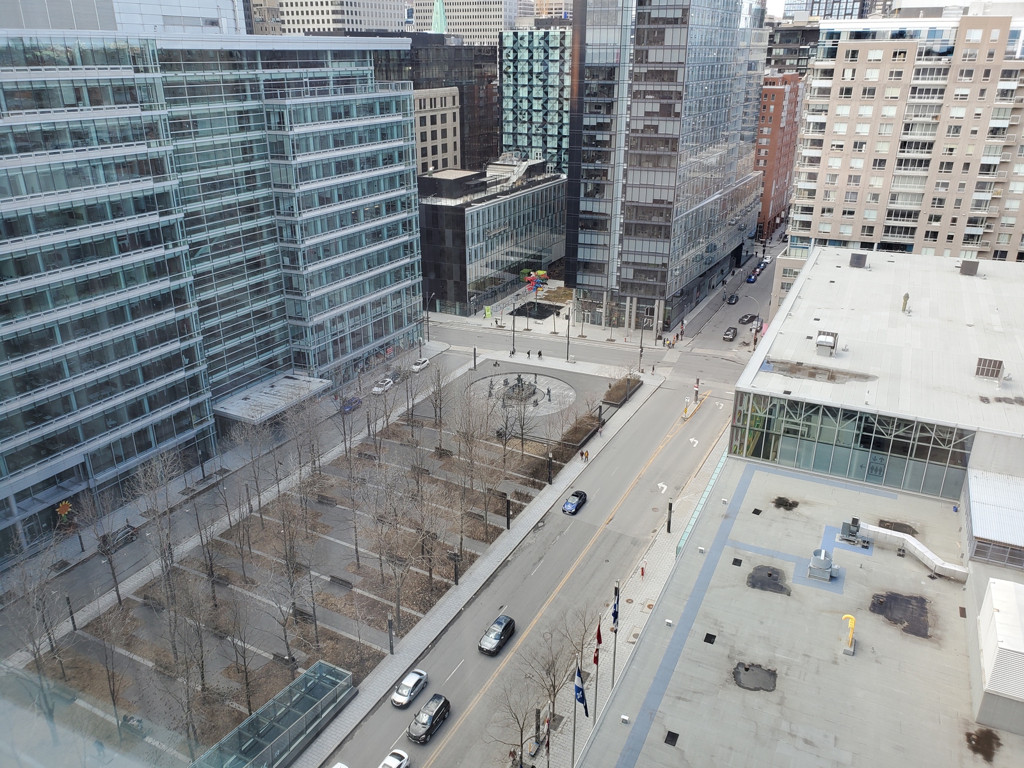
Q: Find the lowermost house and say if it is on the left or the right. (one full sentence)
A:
It is on the left.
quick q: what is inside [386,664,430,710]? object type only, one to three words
car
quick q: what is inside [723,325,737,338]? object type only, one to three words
vehicle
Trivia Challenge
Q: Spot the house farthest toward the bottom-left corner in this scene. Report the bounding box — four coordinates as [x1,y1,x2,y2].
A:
[201,657,360,768]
